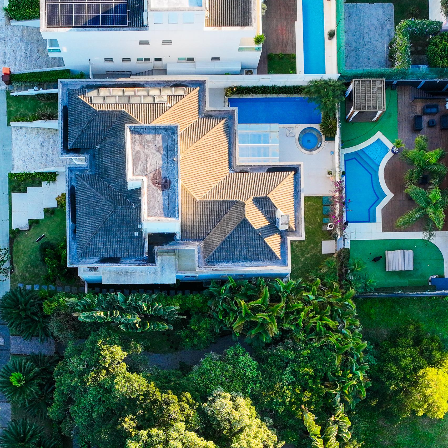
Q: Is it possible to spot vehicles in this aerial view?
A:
No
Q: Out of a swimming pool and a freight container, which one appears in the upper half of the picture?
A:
swimming pool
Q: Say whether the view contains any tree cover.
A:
Yes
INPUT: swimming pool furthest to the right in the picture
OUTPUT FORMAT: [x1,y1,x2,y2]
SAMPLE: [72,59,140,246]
[341,133,397,222]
